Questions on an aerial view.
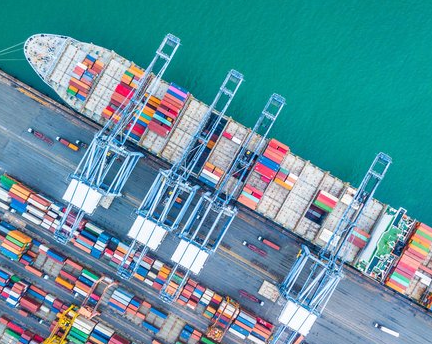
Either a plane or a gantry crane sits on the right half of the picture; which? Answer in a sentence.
Looking on the right half of the picture, you will find a gantry crane.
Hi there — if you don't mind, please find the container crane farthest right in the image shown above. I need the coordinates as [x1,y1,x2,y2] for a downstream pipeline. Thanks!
[275,155,395,344]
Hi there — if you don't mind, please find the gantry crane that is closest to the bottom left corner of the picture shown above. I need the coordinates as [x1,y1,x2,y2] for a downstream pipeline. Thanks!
[42,299,87,344]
